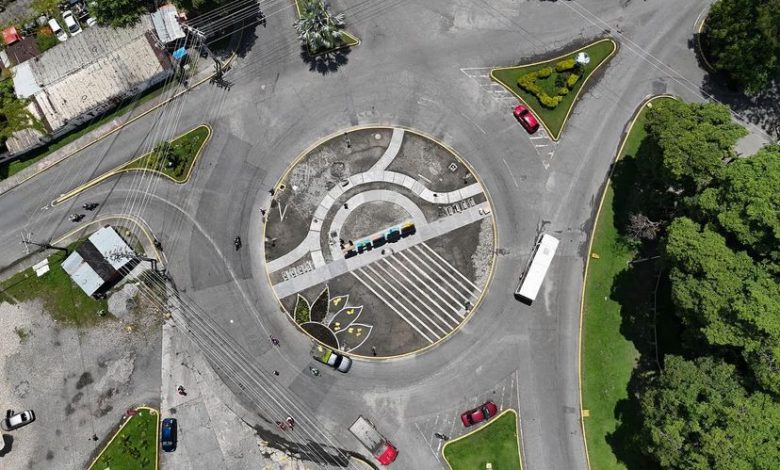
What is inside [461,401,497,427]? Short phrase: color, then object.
red car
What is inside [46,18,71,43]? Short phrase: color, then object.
white car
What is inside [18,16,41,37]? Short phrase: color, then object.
gray car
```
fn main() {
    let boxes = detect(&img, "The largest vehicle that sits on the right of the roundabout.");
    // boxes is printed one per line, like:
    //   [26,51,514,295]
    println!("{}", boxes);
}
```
[516,232,560,301]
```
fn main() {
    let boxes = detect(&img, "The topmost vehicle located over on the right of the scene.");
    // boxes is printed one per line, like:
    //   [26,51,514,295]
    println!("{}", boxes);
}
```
[512,107,541,133]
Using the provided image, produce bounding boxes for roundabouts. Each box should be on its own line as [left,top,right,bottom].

[261,123,498,360]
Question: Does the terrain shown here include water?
No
